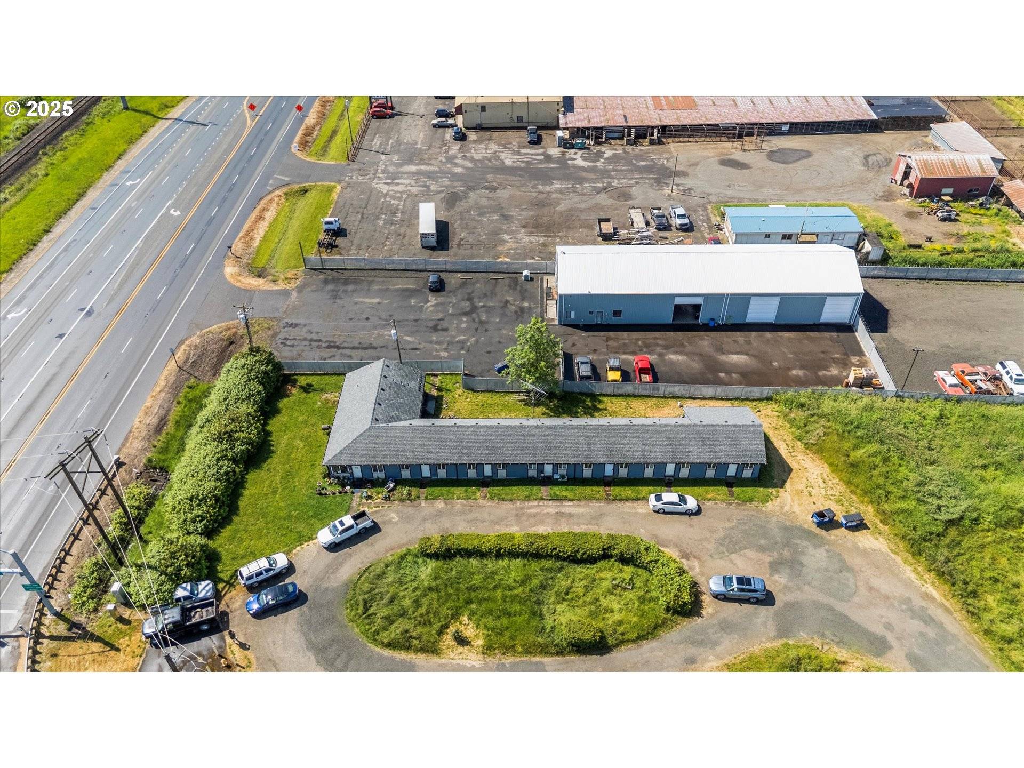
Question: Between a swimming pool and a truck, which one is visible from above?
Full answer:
It is a truck that can be seen here.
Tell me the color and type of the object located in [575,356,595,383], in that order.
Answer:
gray car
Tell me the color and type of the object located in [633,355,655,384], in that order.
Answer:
red truck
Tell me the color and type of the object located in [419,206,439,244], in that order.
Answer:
white trailer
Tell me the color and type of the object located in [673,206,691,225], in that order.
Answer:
white vehicle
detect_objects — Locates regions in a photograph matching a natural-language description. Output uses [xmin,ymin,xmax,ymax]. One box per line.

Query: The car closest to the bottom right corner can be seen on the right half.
[709,572,768,603]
